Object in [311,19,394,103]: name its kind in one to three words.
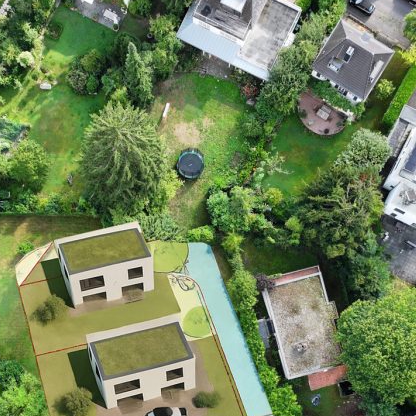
house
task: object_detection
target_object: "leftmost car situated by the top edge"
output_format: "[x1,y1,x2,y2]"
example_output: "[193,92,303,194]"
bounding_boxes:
[347,0,377,18]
